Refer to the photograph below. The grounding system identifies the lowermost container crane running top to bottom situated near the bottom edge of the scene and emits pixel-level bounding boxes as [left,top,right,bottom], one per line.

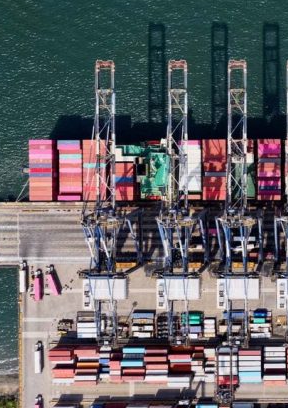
[215,338,238,404]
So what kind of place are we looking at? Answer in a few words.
port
